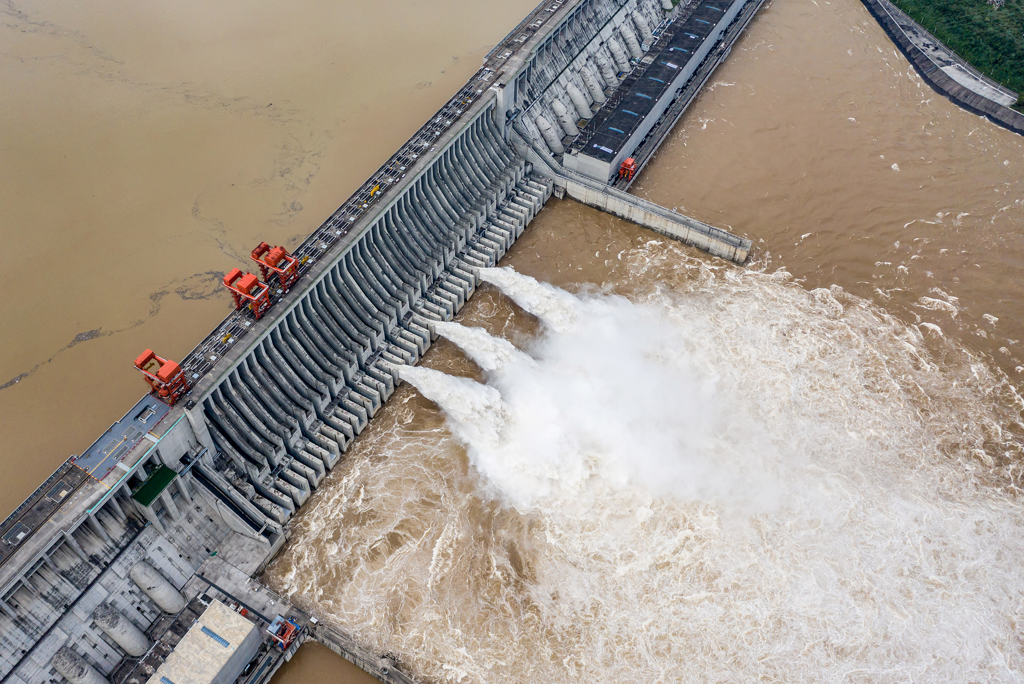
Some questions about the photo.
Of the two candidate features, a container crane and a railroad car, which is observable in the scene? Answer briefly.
container crane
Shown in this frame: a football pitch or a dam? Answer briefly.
dam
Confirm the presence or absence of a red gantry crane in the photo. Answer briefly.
Yes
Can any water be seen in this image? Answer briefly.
Yes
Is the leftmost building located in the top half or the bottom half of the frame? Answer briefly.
bottom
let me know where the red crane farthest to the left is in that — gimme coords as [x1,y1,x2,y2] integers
[130,349,189,407]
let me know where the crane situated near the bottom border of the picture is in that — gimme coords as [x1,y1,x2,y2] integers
[265,616,306,654]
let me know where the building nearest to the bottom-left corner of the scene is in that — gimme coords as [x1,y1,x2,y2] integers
[125,593,263,684]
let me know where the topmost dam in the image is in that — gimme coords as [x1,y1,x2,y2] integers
[462,0,688,153]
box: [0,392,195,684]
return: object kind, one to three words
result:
dam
